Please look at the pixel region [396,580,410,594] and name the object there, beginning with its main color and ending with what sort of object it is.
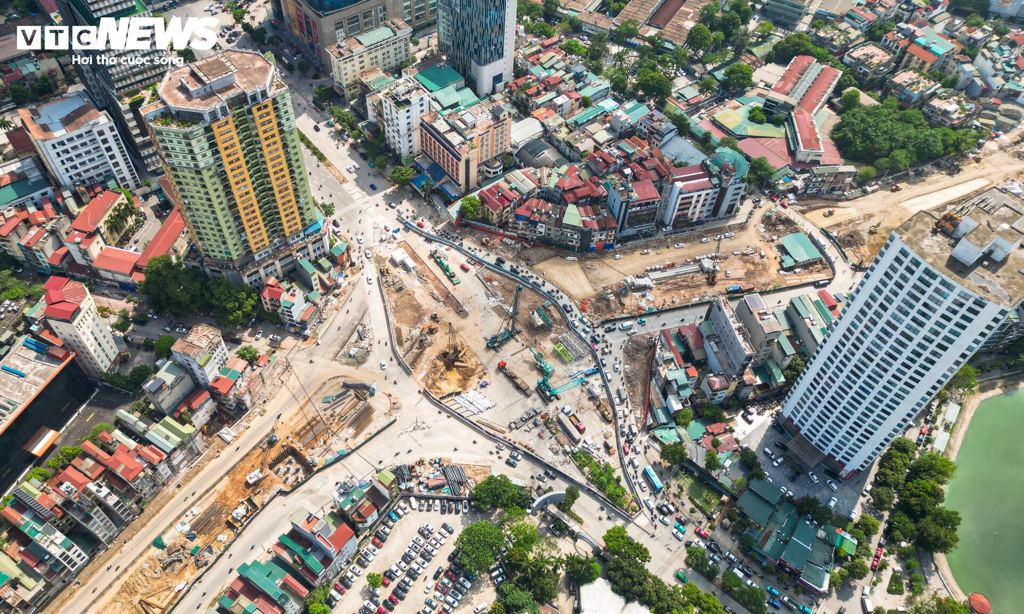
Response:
gray car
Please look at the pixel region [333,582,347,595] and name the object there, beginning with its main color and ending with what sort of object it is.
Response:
red vehicle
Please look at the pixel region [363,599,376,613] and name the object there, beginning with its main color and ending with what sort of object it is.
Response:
white vehicle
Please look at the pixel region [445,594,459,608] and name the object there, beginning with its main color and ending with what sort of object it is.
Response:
white car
